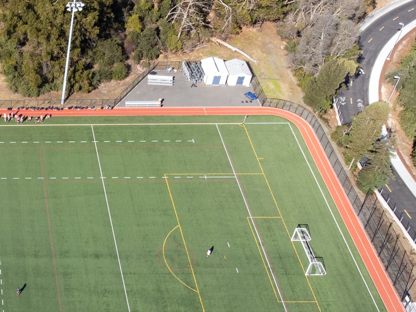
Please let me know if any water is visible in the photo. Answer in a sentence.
No, water can't be seen anywhere here.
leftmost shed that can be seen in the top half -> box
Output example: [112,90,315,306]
[197,53,230,86]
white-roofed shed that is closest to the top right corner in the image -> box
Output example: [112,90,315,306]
[226,56,254,88]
